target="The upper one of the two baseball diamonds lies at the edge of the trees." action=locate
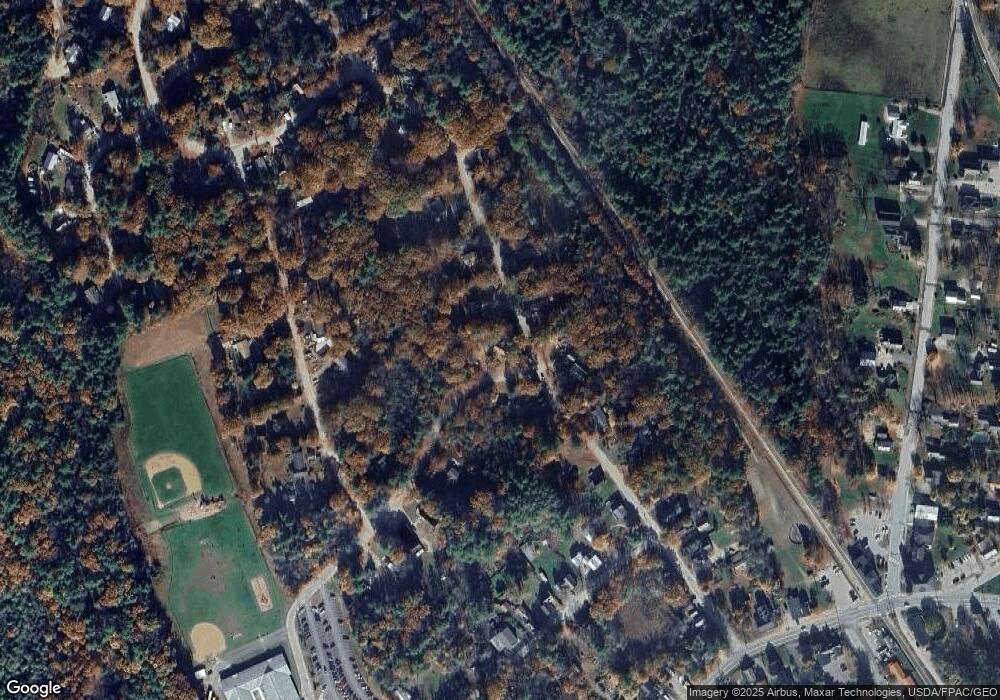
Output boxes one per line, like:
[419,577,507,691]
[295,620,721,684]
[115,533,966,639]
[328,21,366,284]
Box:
[126,354,235,514]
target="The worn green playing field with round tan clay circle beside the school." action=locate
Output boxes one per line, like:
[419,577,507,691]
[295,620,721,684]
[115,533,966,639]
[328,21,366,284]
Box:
[167,499,287,667]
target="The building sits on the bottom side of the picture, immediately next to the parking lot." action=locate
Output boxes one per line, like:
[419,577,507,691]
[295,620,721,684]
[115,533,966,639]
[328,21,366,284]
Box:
[221,655,306,700]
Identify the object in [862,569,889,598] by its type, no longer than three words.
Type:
building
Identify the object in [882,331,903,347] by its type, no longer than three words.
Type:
house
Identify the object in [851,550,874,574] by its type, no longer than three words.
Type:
building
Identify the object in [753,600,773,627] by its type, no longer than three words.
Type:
house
